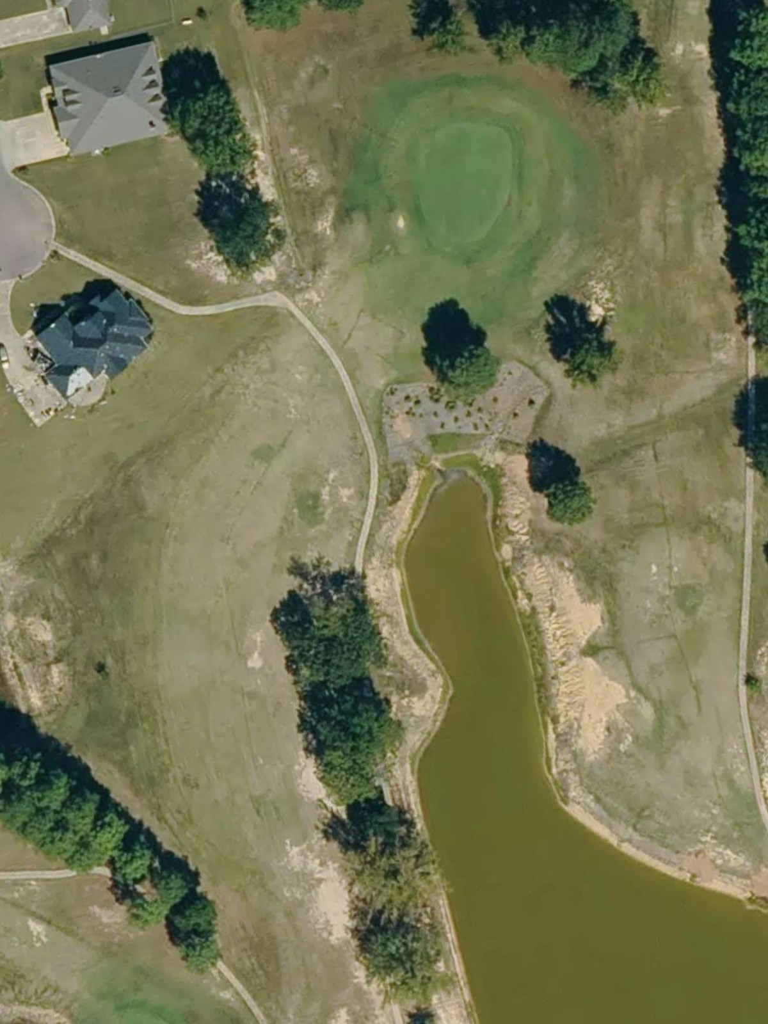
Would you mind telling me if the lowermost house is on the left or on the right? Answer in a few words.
left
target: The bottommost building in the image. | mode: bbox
[37,289,153,397]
